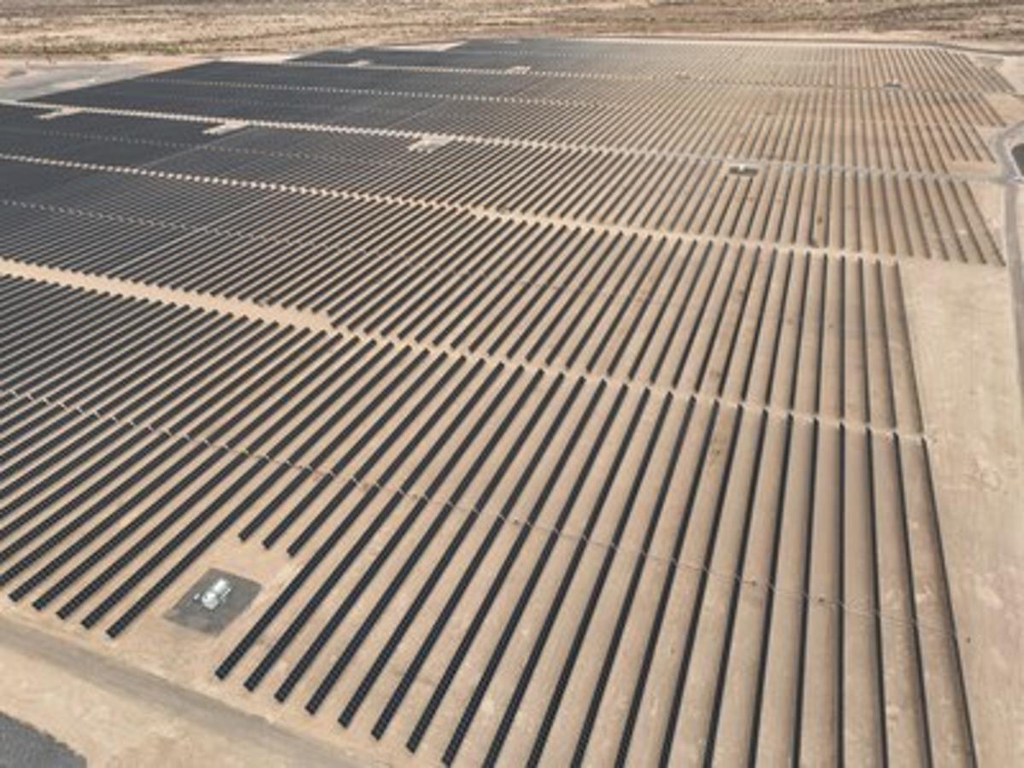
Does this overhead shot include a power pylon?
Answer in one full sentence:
No, there is no power pylon in the image.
